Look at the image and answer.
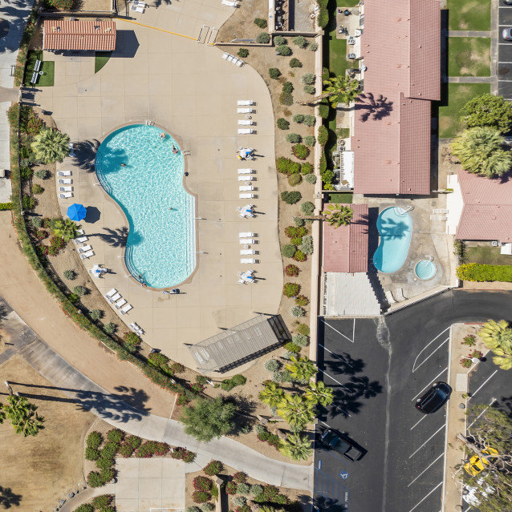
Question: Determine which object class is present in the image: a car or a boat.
car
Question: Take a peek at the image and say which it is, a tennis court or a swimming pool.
swimming pool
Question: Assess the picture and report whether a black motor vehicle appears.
Yes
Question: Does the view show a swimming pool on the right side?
Yes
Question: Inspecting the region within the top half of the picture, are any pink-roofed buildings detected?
Yes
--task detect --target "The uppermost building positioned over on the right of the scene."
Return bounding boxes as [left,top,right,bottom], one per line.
[356,0,441,100]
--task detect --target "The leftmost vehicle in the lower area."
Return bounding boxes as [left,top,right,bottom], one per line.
[318,427,368,468]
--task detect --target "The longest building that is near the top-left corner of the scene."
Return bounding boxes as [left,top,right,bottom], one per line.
[43,19,116,54]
